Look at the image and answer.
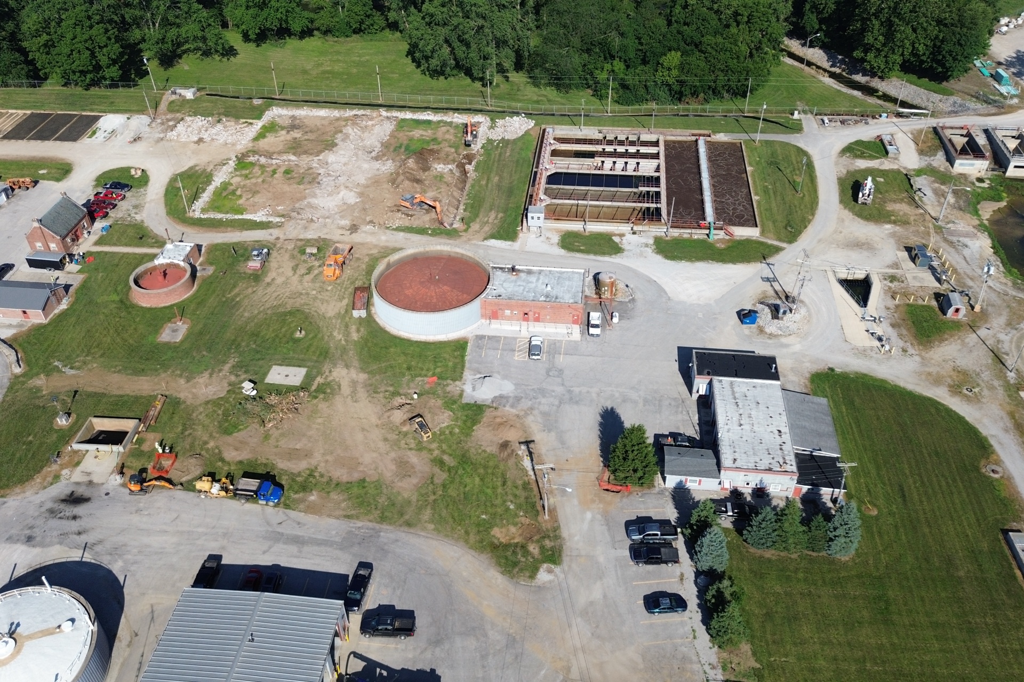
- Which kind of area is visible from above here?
industrial area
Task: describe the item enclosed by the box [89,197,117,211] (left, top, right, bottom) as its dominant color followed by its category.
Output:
red car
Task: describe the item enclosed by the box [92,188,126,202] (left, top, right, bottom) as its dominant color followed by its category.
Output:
red vehicle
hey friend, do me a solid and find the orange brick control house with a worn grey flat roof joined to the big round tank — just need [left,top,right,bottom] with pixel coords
[483,262,592,321]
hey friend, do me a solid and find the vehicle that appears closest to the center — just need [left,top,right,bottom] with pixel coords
[528,337,544,359]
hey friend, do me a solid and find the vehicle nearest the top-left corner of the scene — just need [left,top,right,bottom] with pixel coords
[1,174,34,190]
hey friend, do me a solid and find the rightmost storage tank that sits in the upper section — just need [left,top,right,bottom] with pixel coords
[988,124,1024,172]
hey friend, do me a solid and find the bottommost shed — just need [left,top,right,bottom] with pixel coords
[139,588,347,682]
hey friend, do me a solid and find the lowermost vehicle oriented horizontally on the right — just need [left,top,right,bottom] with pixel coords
[642,595,690,618]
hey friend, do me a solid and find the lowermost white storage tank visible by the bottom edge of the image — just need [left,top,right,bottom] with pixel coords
[0,581,119,682]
